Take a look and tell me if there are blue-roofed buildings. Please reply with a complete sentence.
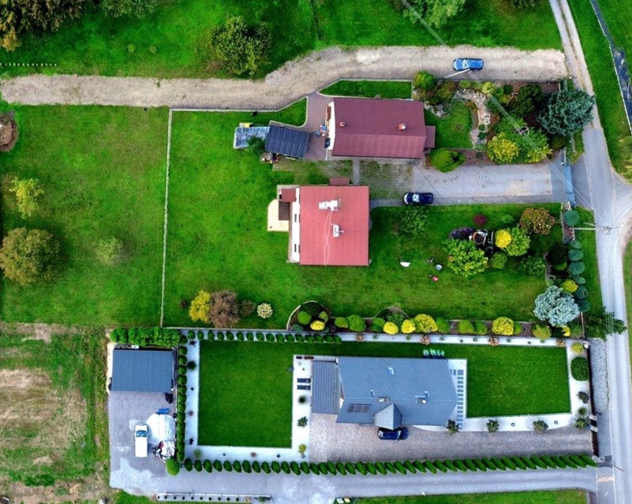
Yes, I can see a blue-roofed building in this picture.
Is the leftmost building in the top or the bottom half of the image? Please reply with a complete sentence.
The leftmost building is in the bottom half of the image.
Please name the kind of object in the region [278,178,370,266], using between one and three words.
house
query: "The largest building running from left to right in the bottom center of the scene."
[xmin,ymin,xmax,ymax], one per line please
[307,356,458,430]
